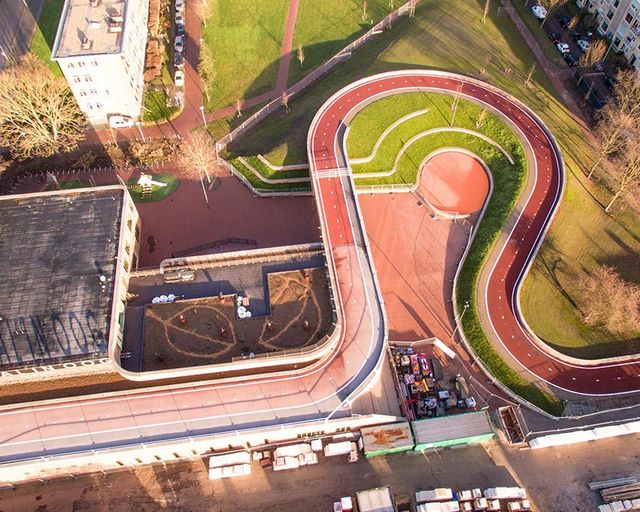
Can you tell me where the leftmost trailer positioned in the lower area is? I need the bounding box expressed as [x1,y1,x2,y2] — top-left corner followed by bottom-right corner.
[355,488,394,512]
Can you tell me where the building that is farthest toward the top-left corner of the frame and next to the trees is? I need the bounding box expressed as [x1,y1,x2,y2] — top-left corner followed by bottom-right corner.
[51,0,149,123]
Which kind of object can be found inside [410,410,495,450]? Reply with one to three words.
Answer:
shed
